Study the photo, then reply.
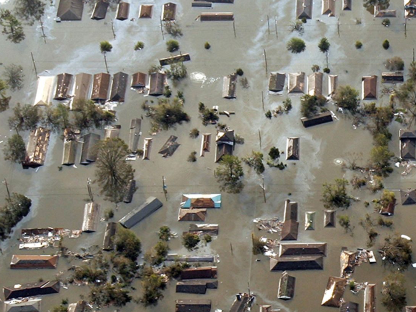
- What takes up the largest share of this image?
water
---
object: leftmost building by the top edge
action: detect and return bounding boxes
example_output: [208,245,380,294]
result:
[55,0,84,20]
